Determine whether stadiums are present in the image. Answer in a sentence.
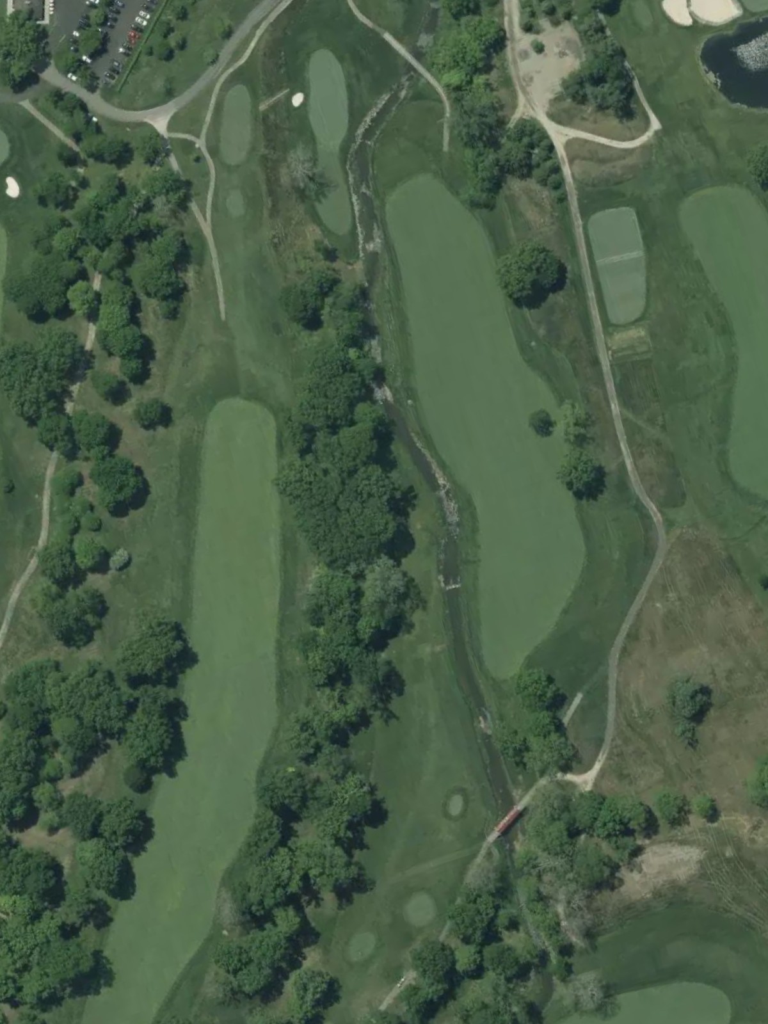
No, there appears to be no stadium in this shot.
